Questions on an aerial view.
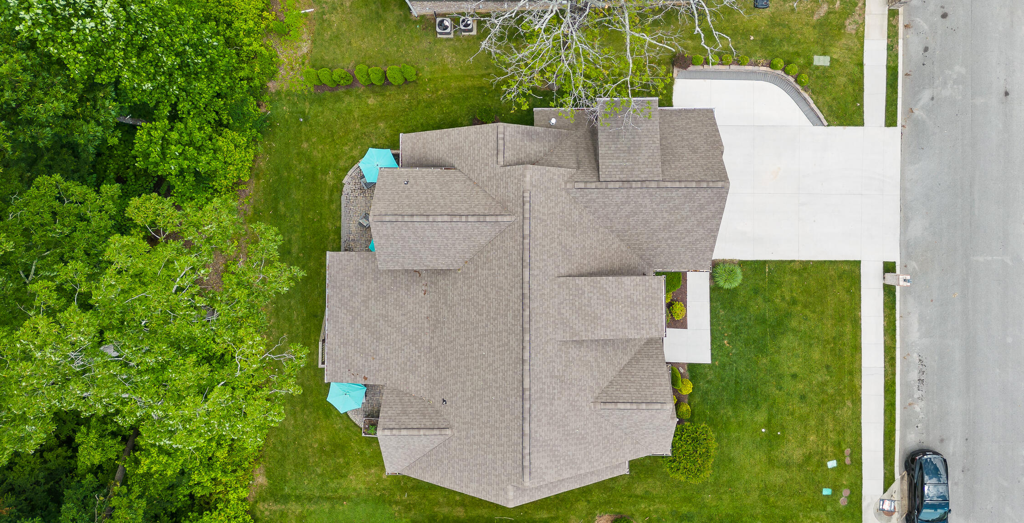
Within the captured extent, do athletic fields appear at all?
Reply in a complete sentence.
No, there is no athletic field in the image.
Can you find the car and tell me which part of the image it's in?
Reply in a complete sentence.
Look in the bottom right portion of the view to spot the car.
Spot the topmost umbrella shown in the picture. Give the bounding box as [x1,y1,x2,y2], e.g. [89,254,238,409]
[358,147,399,183]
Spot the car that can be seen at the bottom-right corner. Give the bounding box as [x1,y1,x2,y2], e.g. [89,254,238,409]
[904,449,953,523]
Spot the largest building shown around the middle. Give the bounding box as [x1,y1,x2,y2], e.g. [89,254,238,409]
[318,96,730,506]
